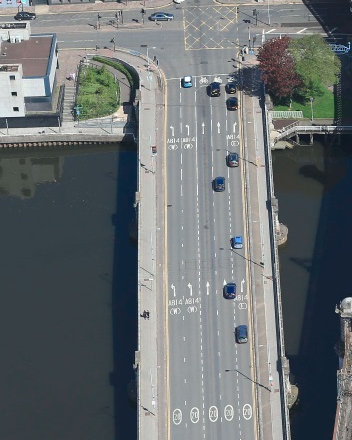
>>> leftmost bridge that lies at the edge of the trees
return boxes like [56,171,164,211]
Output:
[130,71,295,440]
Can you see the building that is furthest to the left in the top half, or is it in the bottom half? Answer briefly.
top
